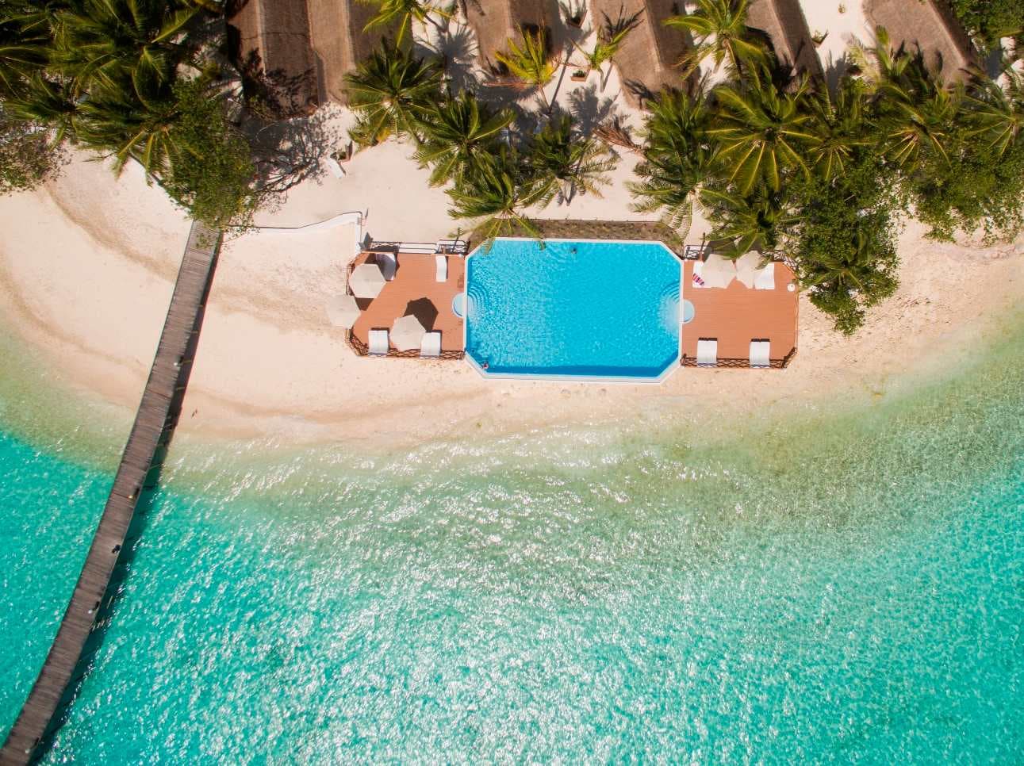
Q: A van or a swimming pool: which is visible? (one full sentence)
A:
Of the two, only a swimming pool appears.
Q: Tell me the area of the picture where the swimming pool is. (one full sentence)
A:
Look in the center portion of the view to spot the swimming pool.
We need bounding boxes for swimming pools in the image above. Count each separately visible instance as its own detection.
[452,238,694,385]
